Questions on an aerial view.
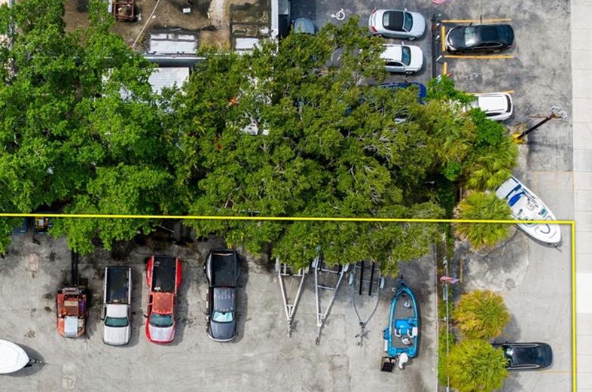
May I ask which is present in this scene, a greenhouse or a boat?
boat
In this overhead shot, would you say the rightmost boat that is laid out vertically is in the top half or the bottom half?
bottom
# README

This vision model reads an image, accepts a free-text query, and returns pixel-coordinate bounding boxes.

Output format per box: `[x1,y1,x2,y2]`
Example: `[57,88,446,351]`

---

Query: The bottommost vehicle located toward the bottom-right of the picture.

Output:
[490,339,554,372]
